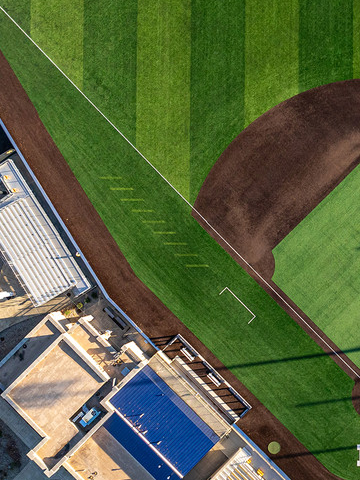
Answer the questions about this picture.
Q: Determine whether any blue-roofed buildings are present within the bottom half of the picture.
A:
Yes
